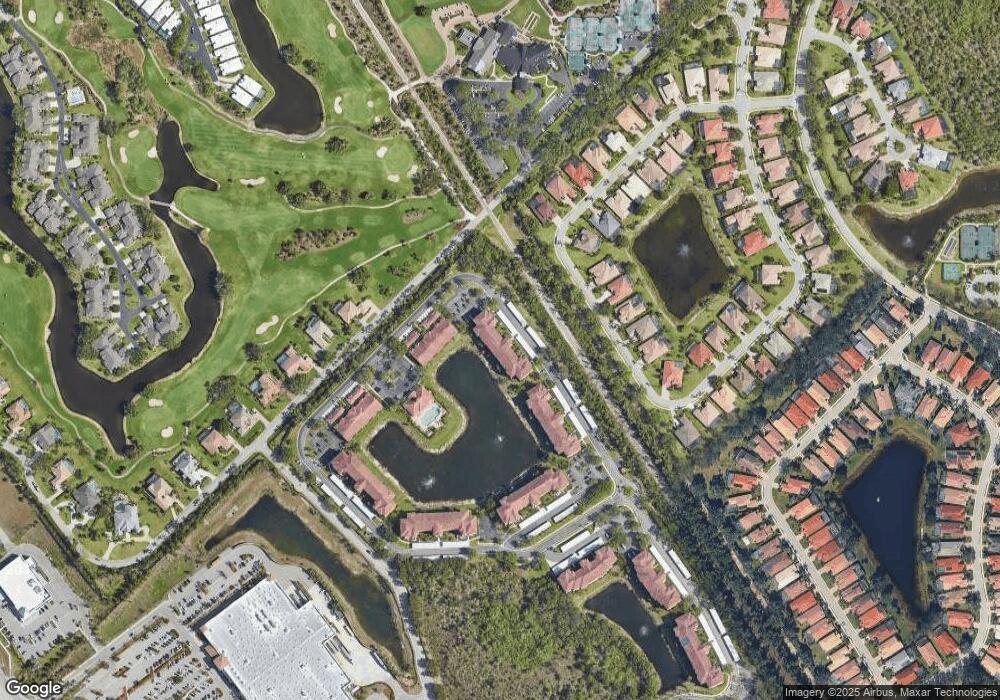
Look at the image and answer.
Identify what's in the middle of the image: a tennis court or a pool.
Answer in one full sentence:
Looking in the middle of the image, you will find a pool.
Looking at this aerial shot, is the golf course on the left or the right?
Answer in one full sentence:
The golf course is on the left side of the image.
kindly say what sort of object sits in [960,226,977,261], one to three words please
tennis court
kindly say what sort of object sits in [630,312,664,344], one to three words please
house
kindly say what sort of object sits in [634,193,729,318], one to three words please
pond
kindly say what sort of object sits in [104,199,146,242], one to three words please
building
